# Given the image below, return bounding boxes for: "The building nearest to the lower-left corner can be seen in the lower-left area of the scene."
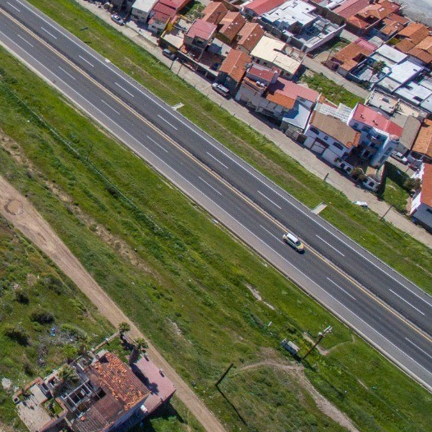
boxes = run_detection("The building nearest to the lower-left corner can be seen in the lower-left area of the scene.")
[9,332,175,432]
